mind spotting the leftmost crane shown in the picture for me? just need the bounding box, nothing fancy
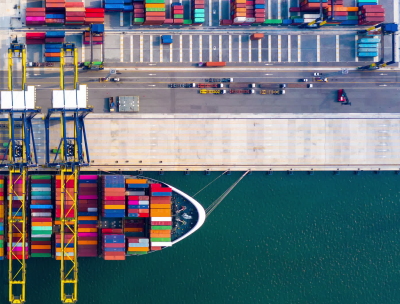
[0,37,42,304]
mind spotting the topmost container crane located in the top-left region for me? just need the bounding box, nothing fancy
[83,22,106,72]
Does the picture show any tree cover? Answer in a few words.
No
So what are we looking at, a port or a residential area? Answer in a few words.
port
